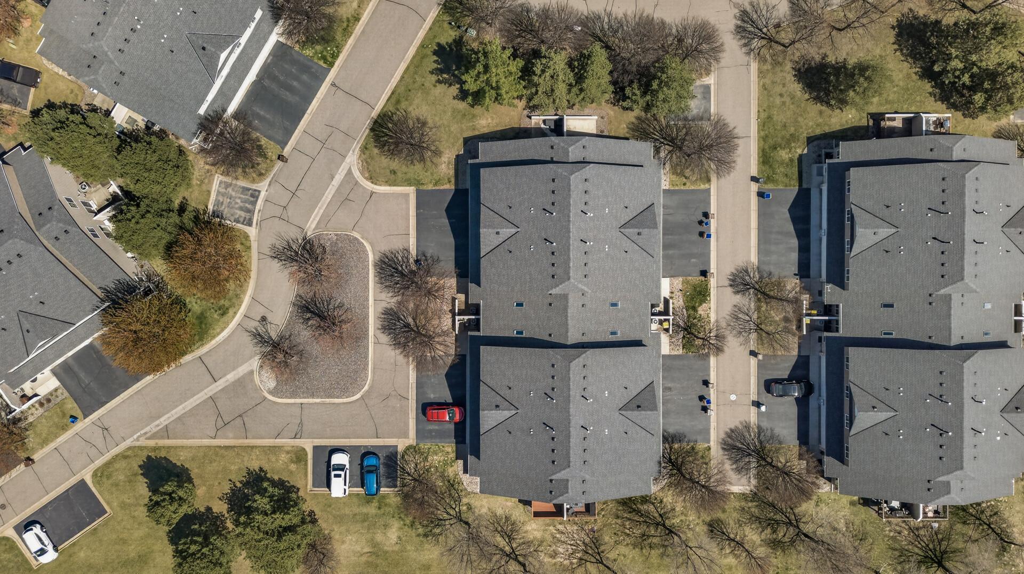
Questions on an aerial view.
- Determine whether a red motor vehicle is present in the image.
Yes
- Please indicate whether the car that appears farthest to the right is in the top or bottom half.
bottom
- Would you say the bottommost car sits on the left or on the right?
left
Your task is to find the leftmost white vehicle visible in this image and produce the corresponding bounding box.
[23,520,58,562]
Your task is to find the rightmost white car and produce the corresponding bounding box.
[329,451,351,496]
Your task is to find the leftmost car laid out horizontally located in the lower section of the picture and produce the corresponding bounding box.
[423,405,466,426]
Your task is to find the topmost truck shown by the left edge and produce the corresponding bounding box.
[0,65,40,92]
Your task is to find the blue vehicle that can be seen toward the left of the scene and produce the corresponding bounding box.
[361,452,381,495]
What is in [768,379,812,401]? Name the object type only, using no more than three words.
car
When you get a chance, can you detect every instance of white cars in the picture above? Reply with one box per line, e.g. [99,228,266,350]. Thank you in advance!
[329,451,351,496]
[23,520,58,562]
